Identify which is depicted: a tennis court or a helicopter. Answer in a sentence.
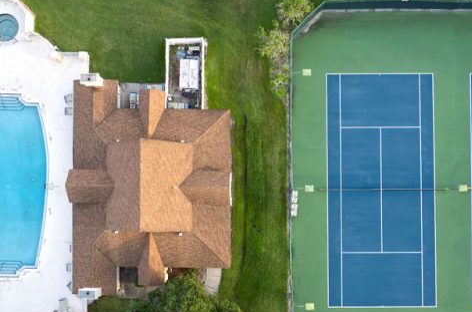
The one in the frame is a tennis court.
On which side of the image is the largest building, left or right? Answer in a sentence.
You can find the largest building on the left side of the picture.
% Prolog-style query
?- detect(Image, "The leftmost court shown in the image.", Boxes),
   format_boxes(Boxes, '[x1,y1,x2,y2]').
[318,74,448,307]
